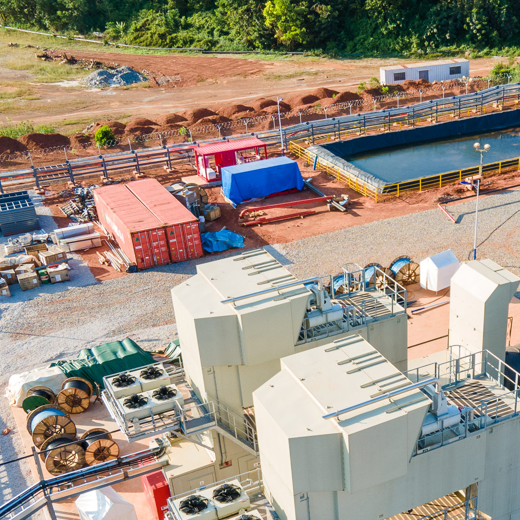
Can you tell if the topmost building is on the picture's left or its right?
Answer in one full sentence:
The topmost building is on the right side of the image.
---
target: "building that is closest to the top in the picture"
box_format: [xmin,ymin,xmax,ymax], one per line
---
[380,55,476,88]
